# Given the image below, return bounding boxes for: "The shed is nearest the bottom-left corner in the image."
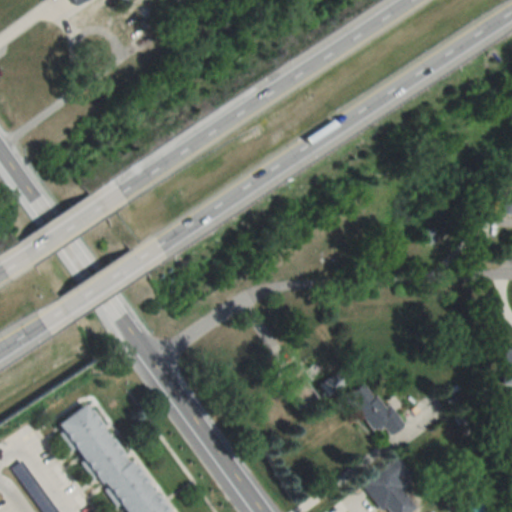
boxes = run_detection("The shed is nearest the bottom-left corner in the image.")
[10,460,57,512]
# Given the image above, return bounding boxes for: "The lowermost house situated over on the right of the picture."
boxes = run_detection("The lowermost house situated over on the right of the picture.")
[364,460,420,512]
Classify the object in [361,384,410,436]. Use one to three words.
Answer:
house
